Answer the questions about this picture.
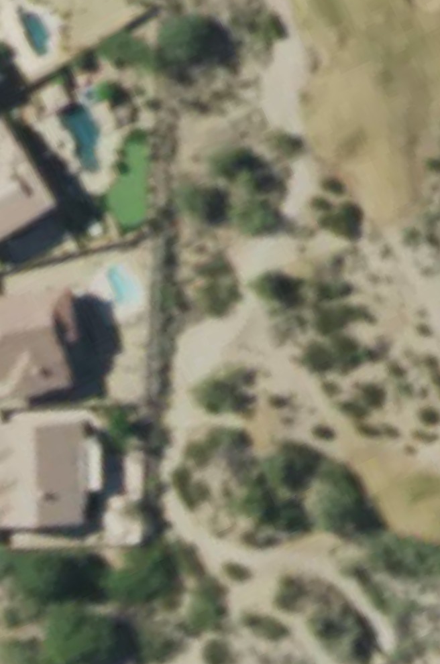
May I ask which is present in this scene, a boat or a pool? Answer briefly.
pool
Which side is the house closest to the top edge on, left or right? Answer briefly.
left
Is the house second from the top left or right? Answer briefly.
left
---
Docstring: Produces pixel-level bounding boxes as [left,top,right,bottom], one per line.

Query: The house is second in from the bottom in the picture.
[0,288,79,407]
